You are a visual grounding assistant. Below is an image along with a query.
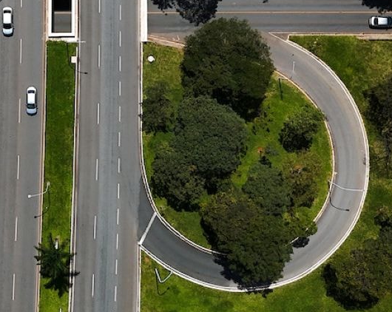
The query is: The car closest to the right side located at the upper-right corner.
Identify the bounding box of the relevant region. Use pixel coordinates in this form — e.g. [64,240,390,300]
[369,15,392,29]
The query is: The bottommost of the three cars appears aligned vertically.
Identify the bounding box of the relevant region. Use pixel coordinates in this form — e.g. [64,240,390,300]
[25,86,38,115]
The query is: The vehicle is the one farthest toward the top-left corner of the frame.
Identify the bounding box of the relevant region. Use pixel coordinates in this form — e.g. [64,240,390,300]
[0,7,14,36]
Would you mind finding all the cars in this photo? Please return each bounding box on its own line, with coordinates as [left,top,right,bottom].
[369,15,392,29]
[25,86,38,115]
[0,7,14,36]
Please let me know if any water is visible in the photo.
No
